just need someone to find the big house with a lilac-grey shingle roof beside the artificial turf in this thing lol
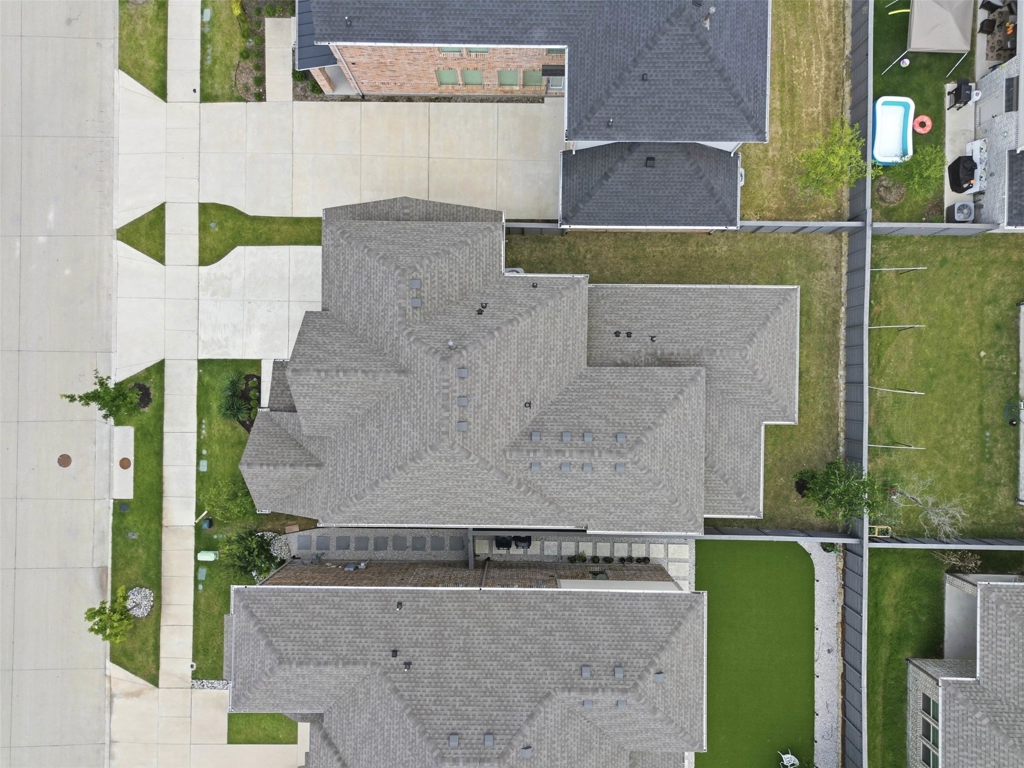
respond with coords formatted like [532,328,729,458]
[223,554,709,768]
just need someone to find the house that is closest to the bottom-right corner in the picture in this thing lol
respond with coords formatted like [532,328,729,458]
[906,574,1024,768]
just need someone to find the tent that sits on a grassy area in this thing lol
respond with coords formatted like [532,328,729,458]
[882,0,972,75]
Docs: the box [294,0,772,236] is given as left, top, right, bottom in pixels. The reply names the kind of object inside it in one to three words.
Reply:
house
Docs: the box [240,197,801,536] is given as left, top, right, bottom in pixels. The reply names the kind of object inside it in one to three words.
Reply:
house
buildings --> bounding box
[974,0,1024,232]
[223,554,709,768]
[906,574,1024,768]
[294,0,772,236]
[240,197,801,536]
